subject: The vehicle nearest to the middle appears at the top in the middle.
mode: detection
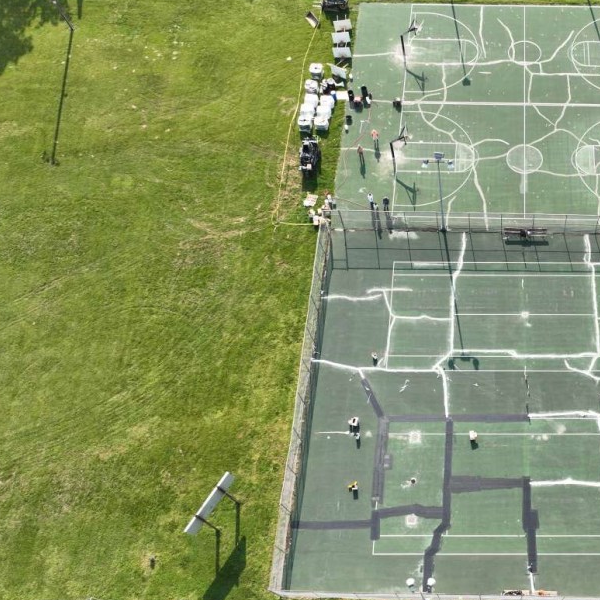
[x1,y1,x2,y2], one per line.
[295,142,319,171]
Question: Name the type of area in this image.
sports ground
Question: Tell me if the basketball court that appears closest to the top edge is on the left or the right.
right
